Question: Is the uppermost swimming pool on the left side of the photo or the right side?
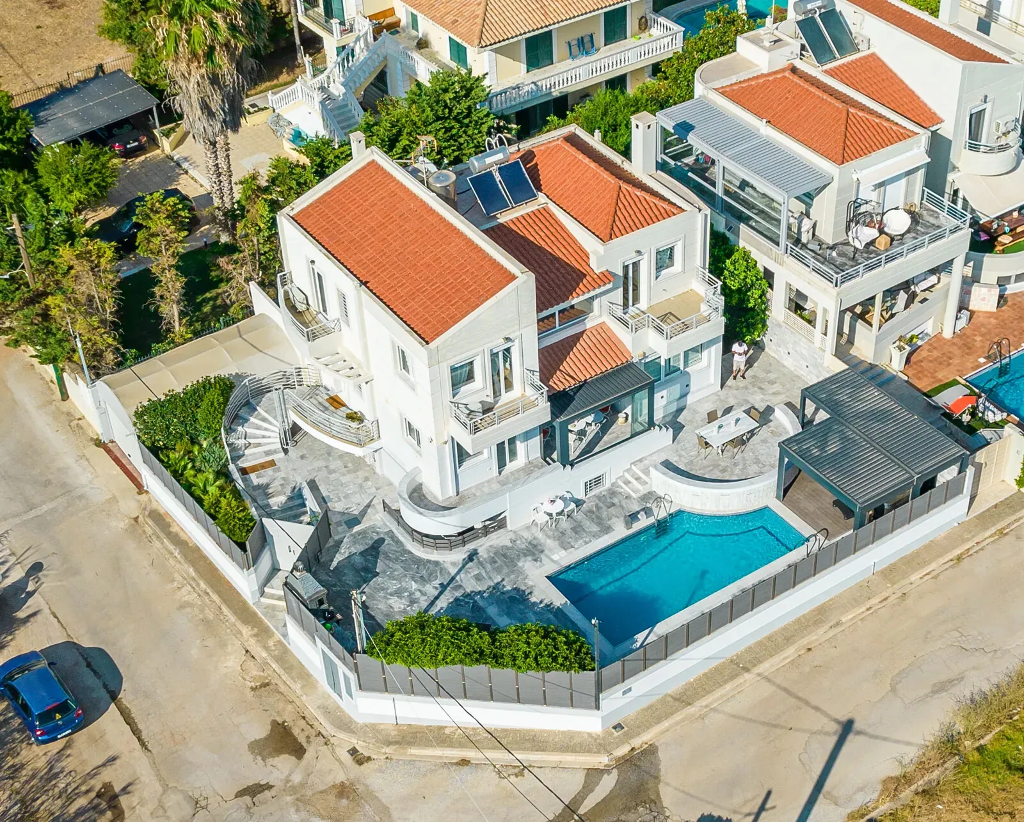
right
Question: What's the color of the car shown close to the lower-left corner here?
blue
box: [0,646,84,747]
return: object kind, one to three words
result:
car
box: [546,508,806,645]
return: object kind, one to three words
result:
swimming pool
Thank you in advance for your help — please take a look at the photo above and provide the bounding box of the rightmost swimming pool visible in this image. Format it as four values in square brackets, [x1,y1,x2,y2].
[961,343,1024,418]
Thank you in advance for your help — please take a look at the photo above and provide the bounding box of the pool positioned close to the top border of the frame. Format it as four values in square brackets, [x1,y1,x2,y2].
[660,0,719,42]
